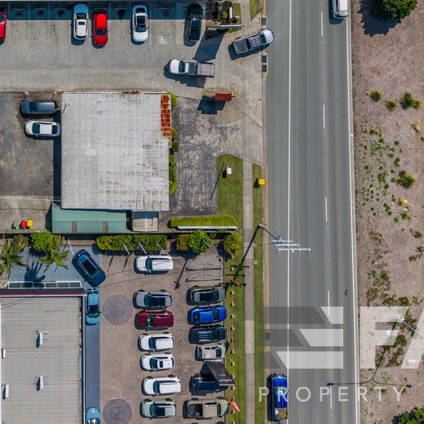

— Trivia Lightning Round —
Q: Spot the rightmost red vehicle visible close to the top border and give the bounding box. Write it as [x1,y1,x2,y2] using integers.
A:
[91,9,109,48]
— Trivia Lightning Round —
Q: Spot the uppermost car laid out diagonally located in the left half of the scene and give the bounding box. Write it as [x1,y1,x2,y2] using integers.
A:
[72,248,105,288]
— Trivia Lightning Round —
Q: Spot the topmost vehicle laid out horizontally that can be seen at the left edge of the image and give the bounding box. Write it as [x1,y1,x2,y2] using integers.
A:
[20,98,58,116]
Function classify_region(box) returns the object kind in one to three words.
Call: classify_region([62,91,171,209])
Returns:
house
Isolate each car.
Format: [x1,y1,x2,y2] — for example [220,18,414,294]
[189,325,227,345]
[184,397,228,419]
[140,352,175,372]
[132,4,150,44]
[141,375,183,396]
[169,58,215,79]
[188,305,226,325]
[137,333,176,353]
[85,410,101,424]
[196,342,227,362]
[20,98,58,116]
[133,290,173,310]
[185,3,205,41]
[72,248,105,288]
[230,27,275,56]
[24,120,61,138]
[186,286,226,307]
[189,373,228,394]
[329,0,347,18]
[135,255,174,274]
[85,287,103,325]
[72,2,91,41]
[141,398,177,419]
[135,310,175,332]
[0,6,9,43]
[91,9,109,48]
